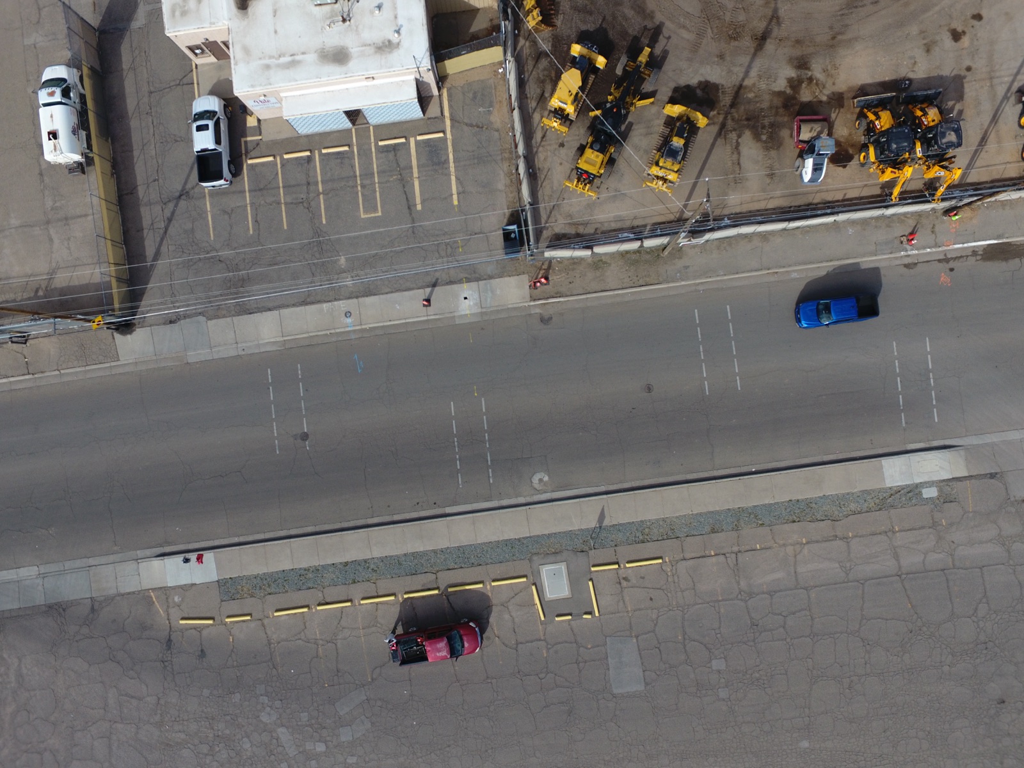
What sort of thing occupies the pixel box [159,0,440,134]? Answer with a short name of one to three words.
building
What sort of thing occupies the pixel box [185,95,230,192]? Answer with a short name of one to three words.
truck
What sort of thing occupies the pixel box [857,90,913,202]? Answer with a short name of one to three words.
work vehicle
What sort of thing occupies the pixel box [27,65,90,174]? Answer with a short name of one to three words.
truck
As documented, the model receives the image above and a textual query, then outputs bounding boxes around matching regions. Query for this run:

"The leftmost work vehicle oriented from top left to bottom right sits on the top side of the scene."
[524,0,556,32]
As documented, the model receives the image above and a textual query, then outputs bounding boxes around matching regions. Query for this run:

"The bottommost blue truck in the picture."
[792,288,881,330]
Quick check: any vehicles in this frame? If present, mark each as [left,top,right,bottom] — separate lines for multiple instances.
[792,288,881,330]
[646,104,713,193]
[27,65,90,174]
[902,86,962,198]
[185,95,230,192]
[524,0,556,32]
[857,90,913,202]
[388,622,482,666]
[564,41,662,196]
[544,45,608,132]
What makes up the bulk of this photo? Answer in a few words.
paved ground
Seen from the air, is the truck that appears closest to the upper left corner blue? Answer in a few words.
No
